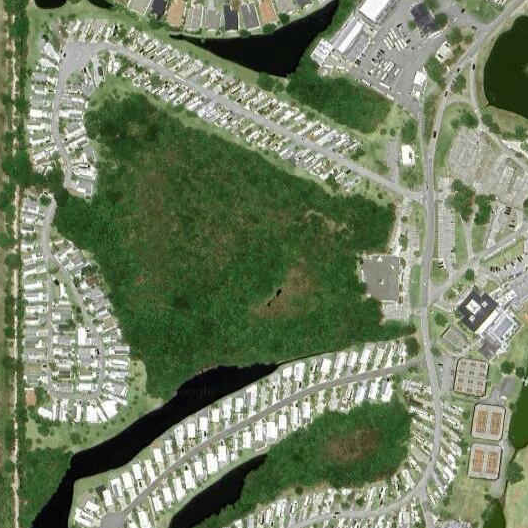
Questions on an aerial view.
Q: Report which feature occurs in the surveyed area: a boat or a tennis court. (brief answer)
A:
tennis court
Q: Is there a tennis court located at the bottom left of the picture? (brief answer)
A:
No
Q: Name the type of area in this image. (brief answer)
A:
residential area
